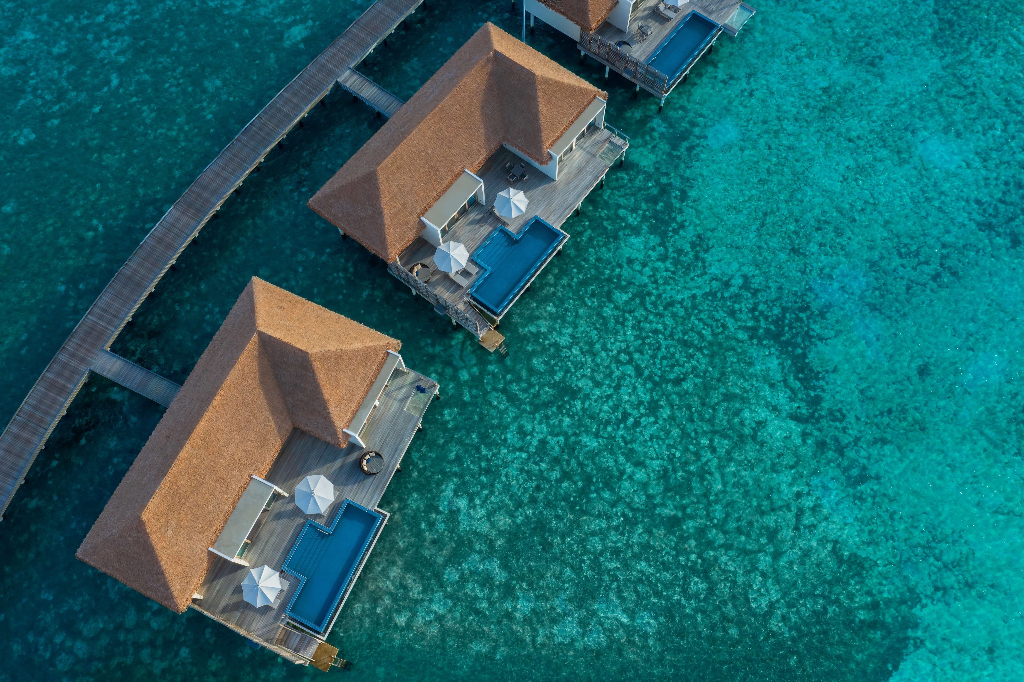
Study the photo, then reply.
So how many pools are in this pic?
three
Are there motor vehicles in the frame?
No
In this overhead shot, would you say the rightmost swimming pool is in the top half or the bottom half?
top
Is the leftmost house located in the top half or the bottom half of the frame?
bottom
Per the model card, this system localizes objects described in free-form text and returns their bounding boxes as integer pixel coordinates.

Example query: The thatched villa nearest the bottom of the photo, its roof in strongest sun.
[73,276,406,614]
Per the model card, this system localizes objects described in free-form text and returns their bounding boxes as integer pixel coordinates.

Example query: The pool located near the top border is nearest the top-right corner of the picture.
[635,10,724,127]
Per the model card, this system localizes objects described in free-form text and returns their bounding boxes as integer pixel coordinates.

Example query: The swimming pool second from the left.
[468,215,570,334]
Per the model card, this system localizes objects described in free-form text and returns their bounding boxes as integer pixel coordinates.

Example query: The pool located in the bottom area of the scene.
[281,498,393,641]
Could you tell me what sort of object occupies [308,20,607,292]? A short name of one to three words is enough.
house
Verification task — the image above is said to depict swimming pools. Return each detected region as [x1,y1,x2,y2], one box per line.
[468,215,570,334]
[281,498,393,641]
[635,10,724,127]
